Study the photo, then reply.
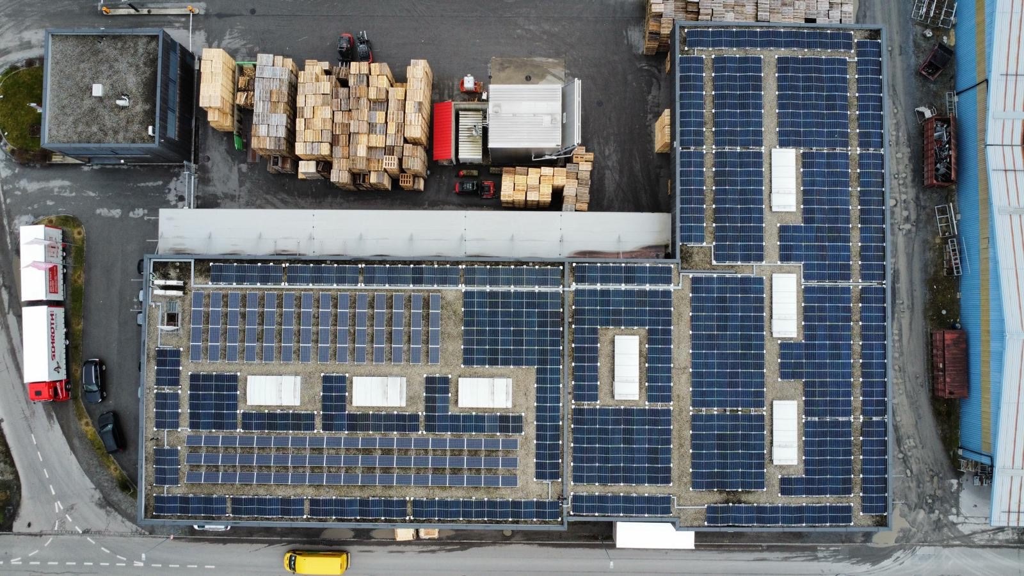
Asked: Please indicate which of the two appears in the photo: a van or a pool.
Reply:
van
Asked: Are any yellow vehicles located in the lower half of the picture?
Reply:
Yes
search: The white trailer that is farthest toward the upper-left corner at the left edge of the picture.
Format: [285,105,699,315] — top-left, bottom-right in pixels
[20,225,71,306]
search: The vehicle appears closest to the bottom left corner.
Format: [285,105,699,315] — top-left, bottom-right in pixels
[98,410,127,455]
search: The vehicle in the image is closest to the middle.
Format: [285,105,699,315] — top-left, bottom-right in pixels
[458,181,492,198]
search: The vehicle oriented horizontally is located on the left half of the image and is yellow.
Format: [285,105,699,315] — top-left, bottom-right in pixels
[287,546,354,574]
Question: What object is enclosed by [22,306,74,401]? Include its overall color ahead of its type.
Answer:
white truck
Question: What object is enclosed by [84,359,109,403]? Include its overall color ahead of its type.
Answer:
black car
